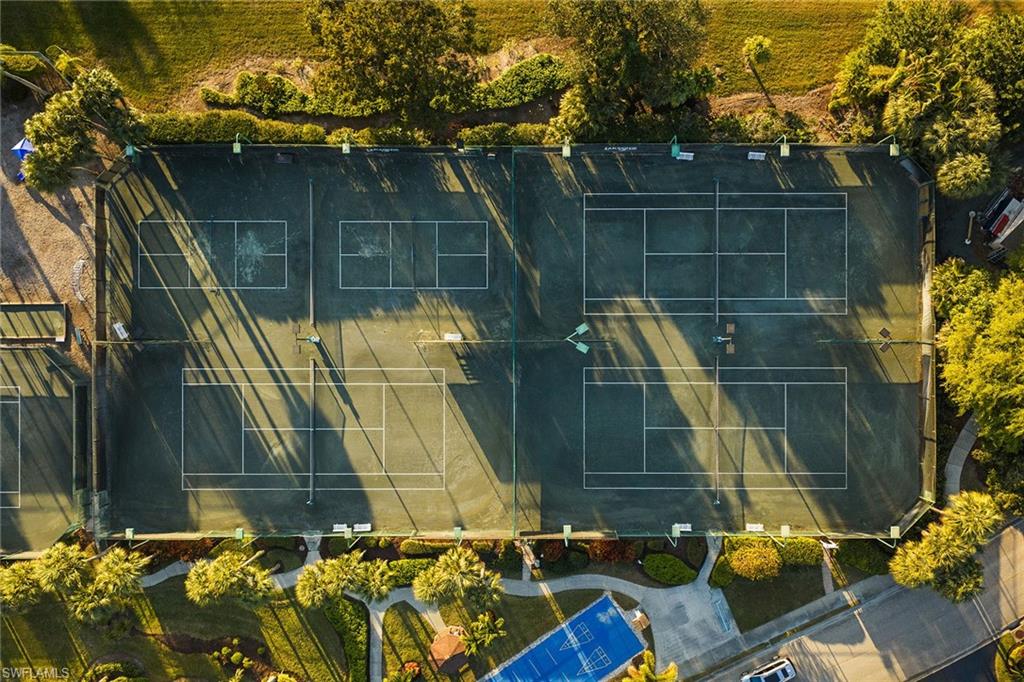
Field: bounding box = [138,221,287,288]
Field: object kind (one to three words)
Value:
sports court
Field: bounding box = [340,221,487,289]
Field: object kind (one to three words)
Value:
sports court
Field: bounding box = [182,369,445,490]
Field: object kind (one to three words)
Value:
tennis court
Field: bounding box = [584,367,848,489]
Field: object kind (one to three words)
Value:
tennis court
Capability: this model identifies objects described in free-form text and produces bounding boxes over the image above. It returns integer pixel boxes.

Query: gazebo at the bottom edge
[427,622,474,674]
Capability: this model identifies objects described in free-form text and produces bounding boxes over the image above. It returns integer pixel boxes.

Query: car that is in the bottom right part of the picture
[743,657,797,682]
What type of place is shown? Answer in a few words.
sports ground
